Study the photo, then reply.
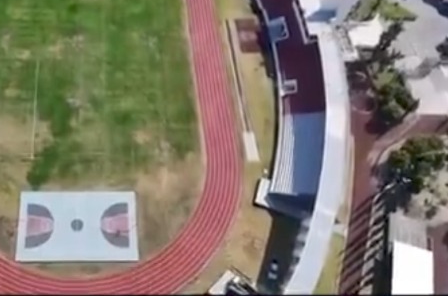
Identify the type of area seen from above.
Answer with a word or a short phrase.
sports ground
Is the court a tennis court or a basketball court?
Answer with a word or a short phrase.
basketball court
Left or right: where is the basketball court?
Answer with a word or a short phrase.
left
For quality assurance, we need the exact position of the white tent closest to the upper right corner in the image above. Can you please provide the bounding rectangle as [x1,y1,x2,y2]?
[348,14,382,48]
